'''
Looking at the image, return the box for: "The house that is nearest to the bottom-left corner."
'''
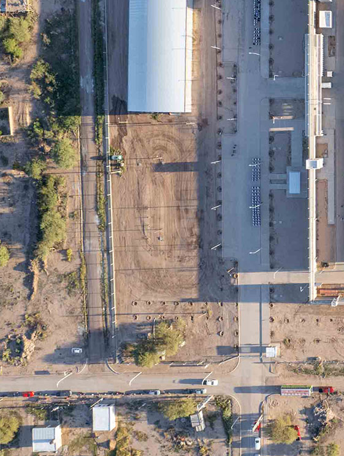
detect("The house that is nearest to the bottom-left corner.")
[32,422,61,451]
